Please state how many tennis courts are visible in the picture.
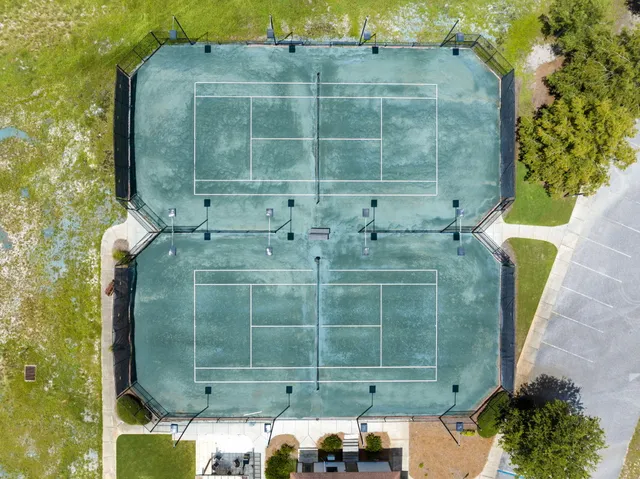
2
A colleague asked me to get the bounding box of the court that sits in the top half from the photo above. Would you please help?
[129,44,501,232]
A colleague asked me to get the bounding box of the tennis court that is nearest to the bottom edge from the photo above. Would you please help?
[129,232,501,420]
